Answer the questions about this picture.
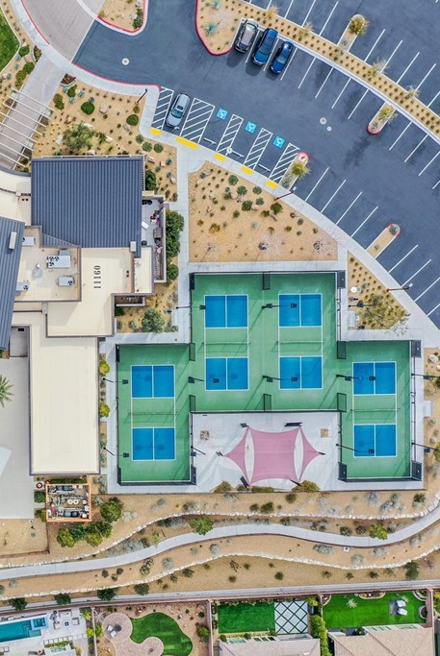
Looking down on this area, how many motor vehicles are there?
4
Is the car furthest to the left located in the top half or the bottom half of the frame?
top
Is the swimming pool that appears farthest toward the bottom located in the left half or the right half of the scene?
left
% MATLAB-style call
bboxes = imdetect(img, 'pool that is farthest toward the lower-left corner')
[0,616,50,644]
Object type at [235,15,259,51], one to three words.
car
